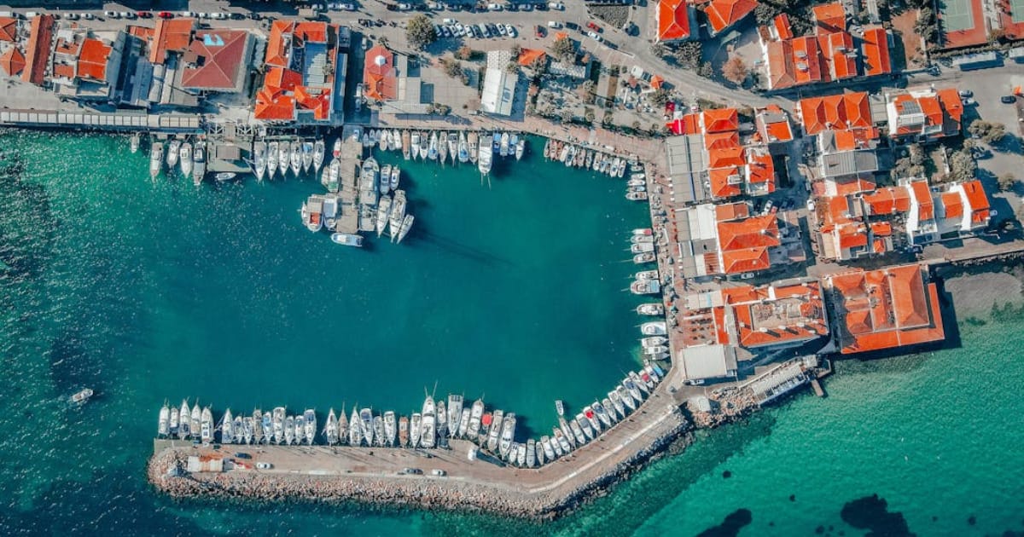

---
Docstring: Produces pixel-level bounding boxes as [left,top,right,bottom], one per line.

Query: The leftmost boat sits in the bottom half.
[70,390,92,404]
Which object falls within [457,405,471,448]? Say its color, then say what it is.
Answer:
white boat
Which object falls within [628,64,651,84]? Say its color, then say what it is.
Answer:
white vehicle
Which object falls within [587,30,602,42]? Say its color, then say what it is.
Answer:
white vehicle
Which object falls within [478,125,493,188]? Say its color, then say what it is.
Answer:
white boat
